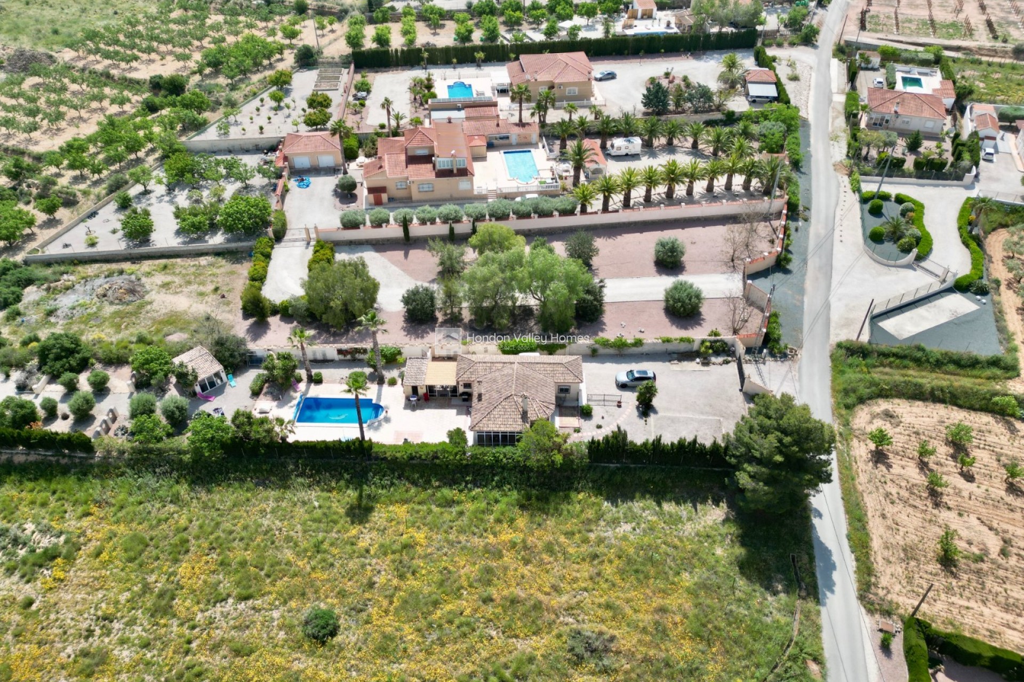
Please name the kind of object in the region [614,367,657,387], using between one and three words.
car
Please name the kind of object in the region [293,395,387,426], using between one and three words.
swimming pool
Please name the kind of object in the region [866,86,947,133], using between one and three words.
house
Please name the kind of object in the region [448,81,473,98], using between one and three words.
swimming pool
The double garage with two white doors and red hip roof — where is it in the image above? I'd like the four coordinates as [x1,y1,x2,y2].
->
[282,131,340,167]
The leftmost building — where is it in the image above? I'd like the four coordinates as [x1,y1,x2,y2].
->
[173,345,227,394]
